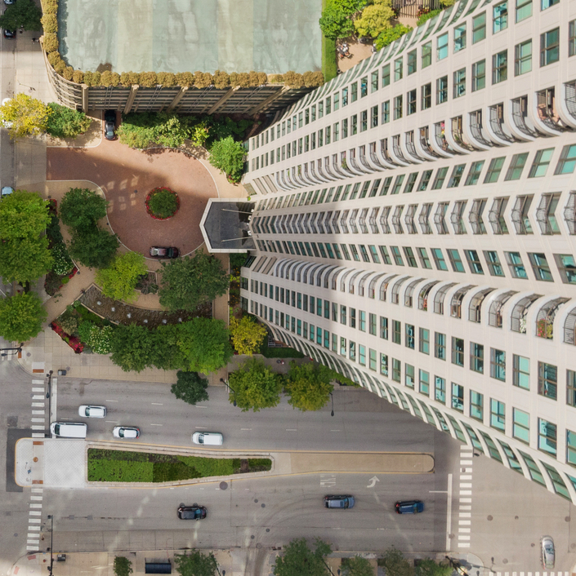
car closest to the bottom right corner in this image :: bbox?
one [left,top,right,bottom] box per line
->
[537,536,553,567]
